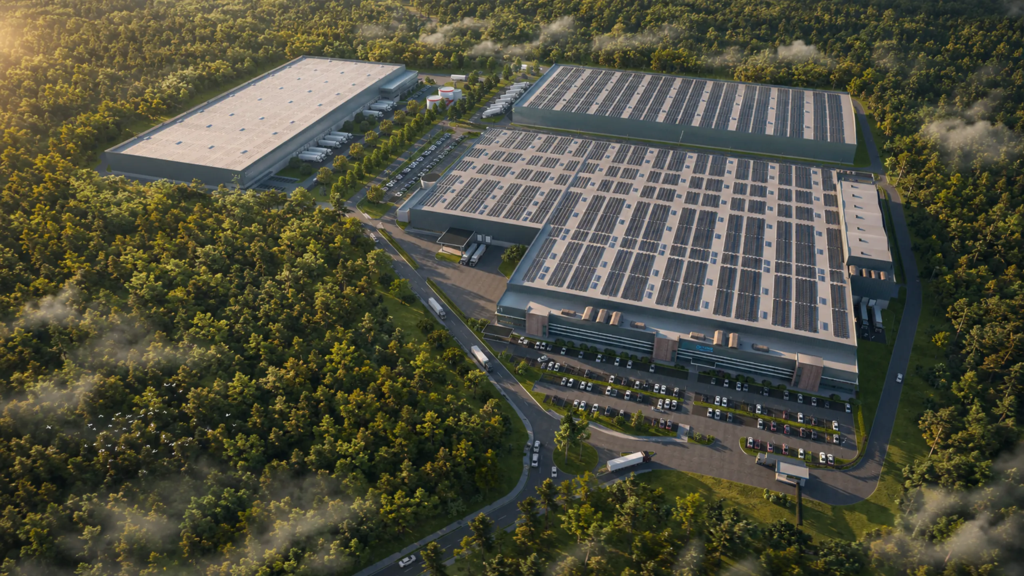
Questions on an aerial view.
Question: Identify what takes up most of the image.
trees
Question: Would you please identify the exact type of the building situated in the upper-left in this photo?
warehouse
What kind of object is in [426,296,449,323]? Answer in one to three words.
truck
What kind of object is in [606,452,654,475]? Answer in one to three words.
truck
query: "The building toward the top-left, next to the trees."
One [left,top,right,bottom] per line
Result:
[105,53,419,191]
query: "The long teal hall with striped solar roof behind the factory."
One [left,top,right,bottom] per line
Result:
[513,63,858,164]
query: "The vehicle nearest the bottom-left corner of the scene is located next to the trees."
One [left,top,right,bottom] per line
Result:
[399,554,416,567]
